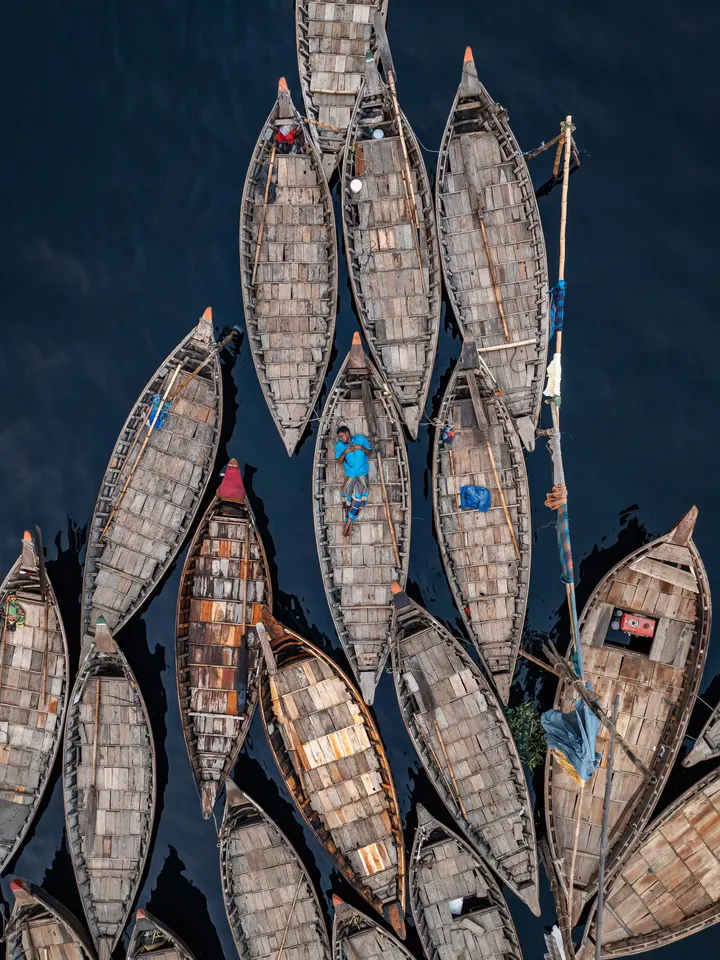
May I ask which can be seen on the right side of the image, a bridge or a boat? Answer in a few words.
boat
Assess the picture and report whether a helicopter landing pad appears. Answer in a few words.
No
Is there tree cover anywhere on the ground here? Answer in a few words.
No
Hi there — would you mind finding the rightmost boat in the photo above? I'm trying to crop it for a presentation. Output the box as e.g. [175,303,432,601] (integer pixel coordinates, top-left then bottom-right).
[678,664,720,768]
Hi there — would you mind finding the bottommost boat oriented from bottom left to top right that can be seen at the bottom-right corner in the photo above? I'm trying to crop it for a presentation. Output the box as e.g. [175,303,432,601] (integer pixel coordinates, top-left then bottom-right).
[575,763,720,960]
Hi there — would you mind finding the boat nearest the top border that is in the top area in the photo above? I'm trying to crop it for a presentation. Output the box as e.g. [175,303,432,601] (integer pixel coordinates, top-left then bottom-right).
[289,0,390,189]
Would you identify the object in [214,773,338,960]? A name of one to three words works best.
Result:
boat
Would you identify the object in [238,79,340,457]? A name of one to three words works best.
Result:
boat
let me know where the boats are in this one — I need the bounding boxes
[335,52,442,441]
[678,664,720,768]
[63,615,162,959]
[325,889,417,960]
[427,334,532,707]
[214,773,338,960]
[176,458,278,819]
[401,799,523,960]
[256,601,404,940]
[0,531,75,874]
[432,47,548,453]
[289,0,390,189]
[311,331,413,706]
[82,307,228,669]
[575,763,720,960]
[387,578,541,919]
[125,903,195,960]
[238,79,340,457]
[546,505,715,931]
[0,877,101,960]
